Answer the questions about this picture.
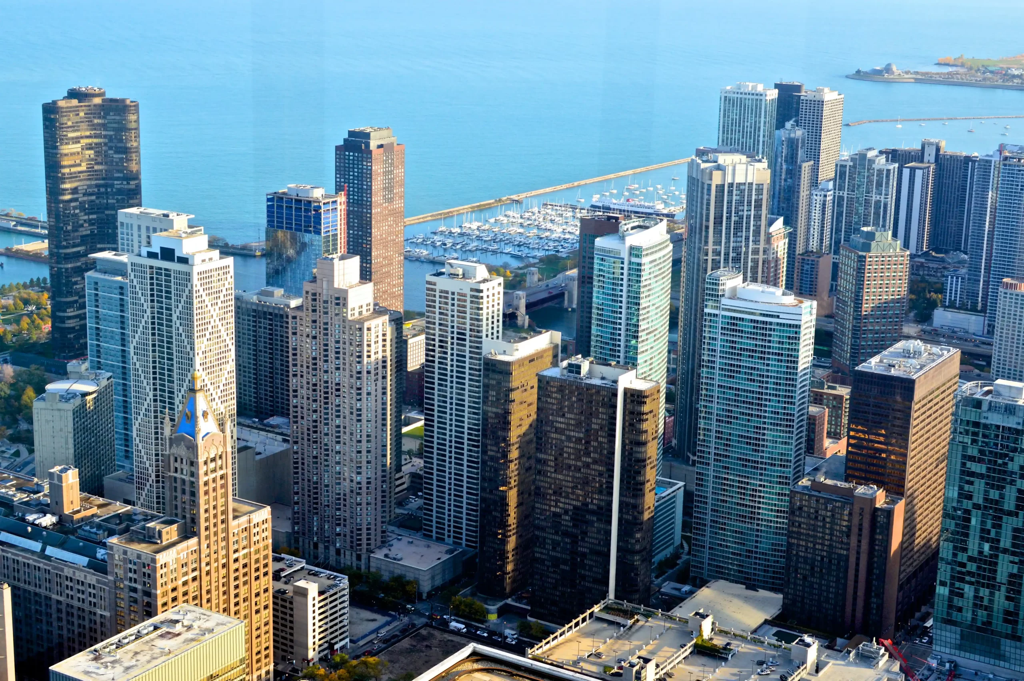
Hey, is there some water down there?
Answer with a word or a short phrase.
Yes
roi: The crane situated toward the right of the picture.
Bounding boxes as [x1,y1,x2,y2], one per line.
[882,629,955,681]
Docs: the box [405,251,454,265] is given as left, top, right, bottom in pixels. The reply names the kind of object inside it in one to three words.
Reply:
pier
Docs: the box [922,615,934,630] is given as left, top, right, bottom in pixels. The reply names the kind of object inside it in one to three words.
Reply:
vehicle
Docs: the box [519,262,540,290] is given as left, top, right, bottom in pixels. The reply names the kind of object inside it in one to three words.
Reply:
house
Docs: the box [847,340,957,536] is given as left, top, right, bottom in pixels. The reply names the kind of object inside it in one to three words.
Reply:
building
